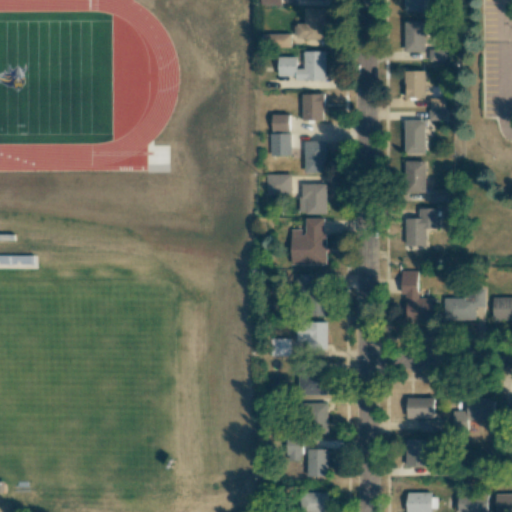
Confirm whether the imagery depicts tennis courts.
No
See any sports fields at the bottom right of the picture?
No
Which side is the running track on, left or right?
left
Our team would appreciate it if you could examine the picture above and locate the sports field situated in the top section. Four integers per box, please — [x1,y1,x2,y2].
[0,12,113,143]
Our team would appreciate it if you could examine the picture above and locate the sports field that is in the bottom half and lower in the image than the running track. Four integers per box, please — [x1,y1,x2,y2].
[0,262,181,512]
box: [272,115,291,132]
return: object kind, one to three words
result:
building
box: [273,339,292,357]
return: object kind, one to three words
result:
shed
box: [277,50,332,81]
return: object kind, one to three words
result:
house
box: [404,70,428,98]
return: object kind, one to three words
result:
house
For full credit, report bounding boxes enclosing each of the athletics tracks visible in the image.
[0,0,180,171]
